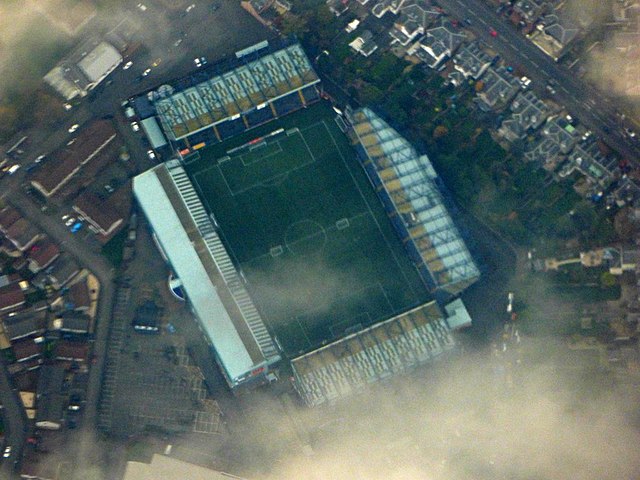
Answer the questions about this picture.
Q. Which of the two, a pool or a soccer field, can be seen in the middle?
soccer field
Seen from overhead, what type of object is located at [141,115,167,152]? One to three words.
building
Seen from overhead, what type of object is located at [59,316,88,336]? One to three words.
house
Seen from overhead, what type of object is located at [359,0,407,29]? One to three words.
house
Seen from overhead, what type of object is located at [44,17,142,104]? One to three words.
building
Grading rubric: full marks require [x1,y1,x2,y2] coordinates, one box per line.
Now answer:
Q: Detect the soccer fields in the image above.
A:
[182,103,430,372]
